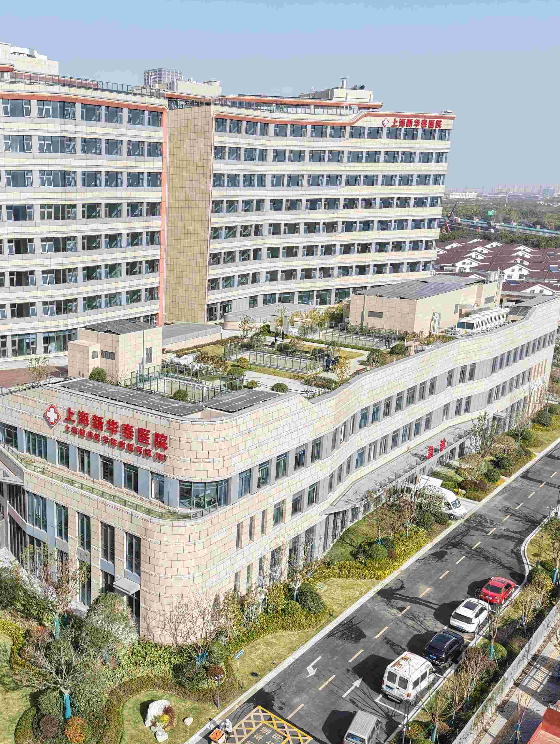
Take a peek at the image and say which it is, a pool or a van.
van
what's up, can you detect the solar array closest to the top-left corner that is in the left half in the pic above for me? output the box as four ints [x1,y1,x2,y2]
[78,309,164,338]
